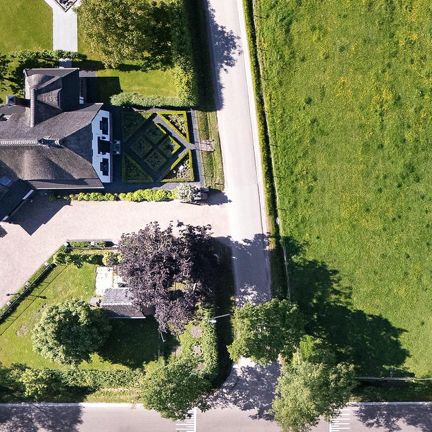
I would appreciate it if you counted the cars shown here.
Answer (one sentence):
The count of cars is 0.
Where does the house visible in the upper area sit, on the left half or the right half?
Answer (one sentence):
The house visible in the upper area sits on the left side.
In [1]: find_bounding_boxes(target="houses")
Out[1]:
[0,65,123,235]
[93,287,153,319]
